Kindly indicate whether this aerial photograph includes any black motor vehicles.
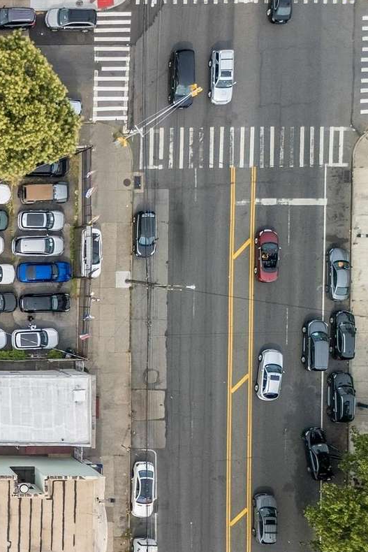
Yes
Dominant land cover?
paved ground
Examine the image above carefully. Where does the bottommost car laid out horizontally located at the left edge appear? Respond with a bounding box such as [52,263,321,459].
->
[10,327,58,351]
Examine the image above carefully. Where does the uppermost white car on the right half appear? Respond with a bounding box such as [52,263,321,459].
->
[206,49,237,107]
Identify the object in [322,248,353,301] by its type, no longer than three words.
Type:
car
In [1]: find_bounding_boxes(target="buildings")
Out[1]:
[0,357,100,458]
[0,459,115,552]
